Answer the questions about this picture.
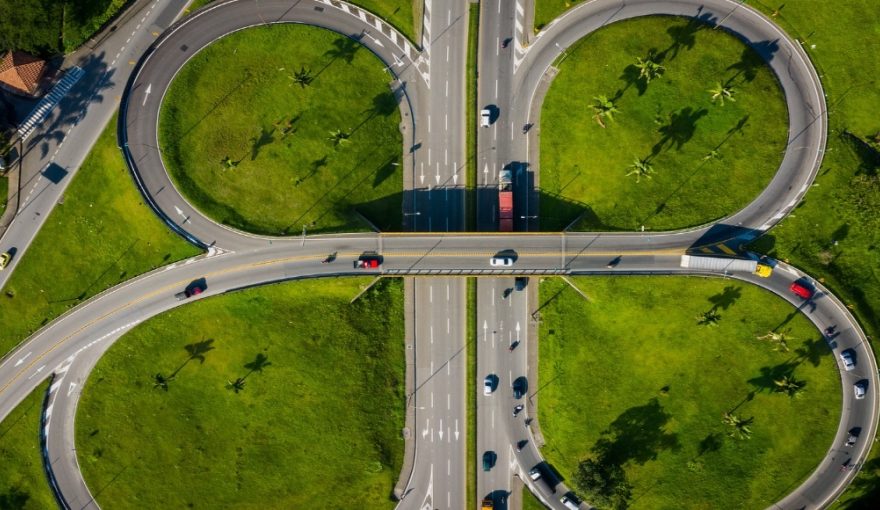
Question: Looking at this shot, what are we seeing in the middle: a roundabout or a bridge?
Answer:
bridge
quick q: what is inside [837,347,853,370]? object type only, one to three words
car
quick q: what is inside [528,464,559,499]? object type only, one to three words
truck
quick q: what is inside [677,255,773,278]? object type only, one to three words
truck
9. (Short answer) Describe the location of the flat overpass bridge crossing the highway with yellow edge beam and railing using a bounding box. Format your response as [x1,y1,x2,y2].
[349,206,594,304]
